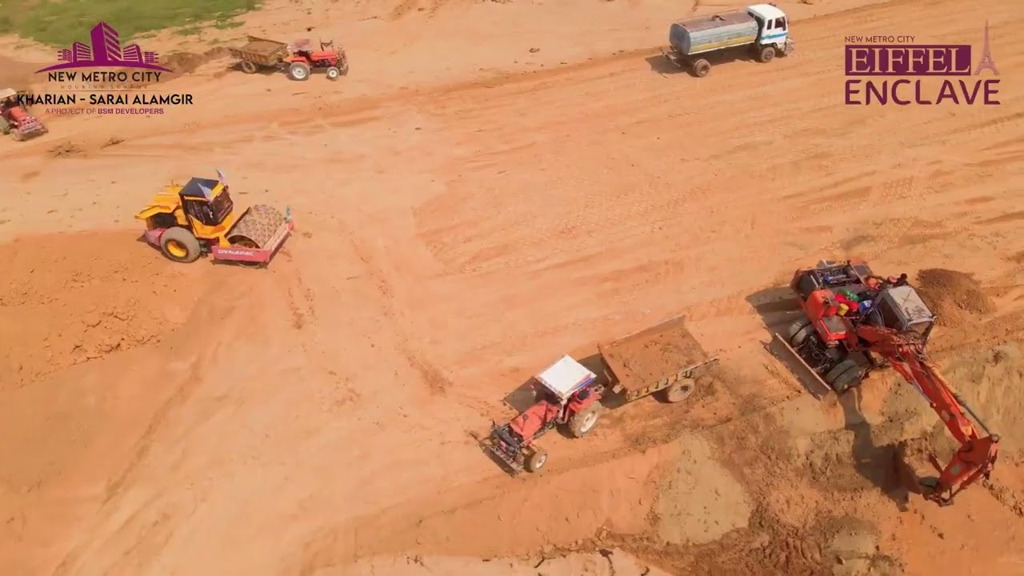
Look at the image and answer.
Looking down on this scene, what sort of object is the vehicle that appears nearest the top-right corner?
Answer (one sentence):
In the photo, the vehicle that appears nearest the top-right corner shows up as a truck.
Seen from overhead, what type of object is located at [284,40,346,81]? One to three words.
work vehicle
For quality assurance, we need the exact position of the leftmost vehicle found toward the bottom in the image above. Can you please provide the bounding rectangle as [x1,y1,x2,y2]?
[473,352,600,483]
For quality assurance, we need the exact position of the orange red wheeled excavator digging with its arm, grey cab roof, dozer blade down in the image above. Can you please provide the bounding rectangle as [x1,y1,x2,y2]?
[768,259,1001,507]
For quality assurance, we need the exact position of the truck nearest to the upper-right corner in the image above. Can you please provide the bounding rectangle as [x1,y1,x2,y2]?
[663,6,796,81]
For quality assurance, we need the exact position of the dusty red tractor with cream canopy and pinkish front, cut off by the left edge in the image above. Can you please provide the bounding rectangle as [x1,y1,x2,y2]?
[0,82,46,144]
